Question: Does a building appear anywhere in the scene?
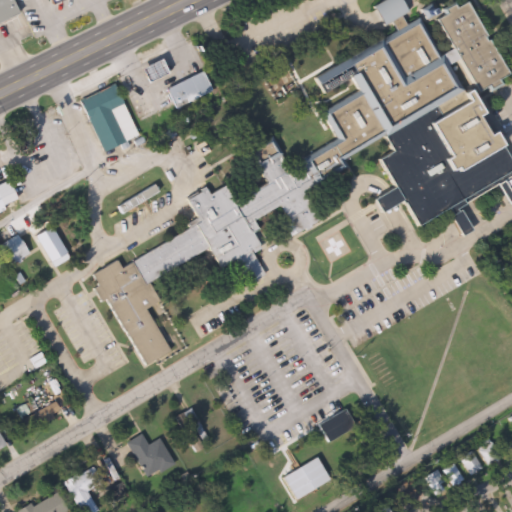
Yes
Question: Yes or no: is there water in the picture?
No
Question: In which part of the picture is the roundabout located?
center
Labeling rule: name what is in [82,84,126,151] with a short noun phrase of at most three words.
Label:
building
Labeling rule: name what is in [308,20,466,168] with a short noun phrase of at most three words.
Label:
building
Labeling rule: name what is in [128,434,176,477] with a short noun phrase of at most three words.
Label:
house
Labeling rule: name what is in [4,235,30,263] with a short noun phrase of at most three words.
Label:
house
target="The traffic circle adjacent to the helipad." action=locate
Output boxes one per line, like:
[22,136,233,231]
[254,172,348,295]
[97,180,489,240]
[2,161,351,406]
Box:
[240,238,330,314]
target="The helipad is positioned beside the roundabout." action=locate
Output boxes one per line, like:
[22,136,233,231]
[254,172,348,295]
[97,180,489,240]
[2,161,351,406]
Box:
[316,229,352,262]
